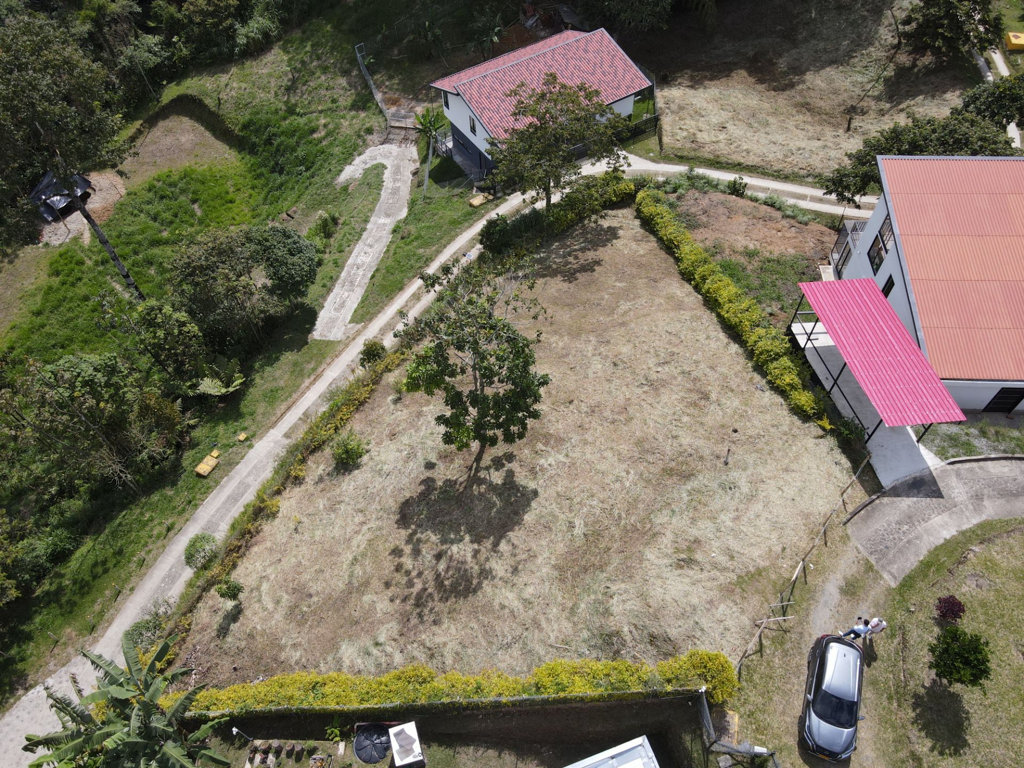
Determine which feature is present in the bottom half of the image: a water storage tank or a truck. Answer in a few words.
water storage tank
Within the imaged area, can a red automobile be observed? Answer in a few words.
No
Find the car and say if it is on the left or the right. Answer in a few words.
right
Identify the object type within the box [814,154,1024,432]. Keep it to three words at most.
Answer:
house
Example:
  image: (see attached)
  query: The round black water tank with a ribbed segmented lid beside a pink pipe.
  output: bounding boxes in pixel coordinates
[351,727,392,767]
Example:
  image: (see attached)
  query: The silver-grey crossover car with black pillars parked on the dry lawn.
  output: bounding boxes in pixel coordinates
[800,637,866,764]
